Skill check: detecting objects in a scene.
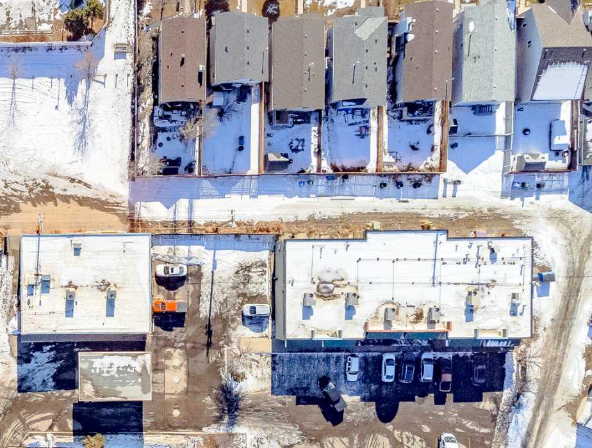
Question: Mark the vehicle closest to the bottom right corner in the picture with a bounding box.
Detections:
[570,391,592,431]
